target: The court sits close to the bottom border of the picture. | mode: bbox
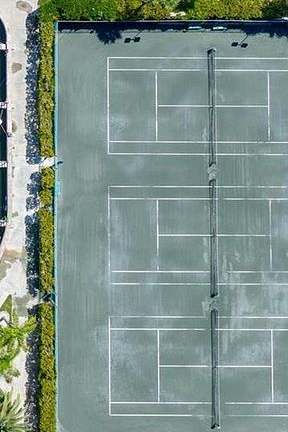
[51,301,288,432]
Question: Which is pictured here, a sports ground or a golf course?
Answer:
sports ground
